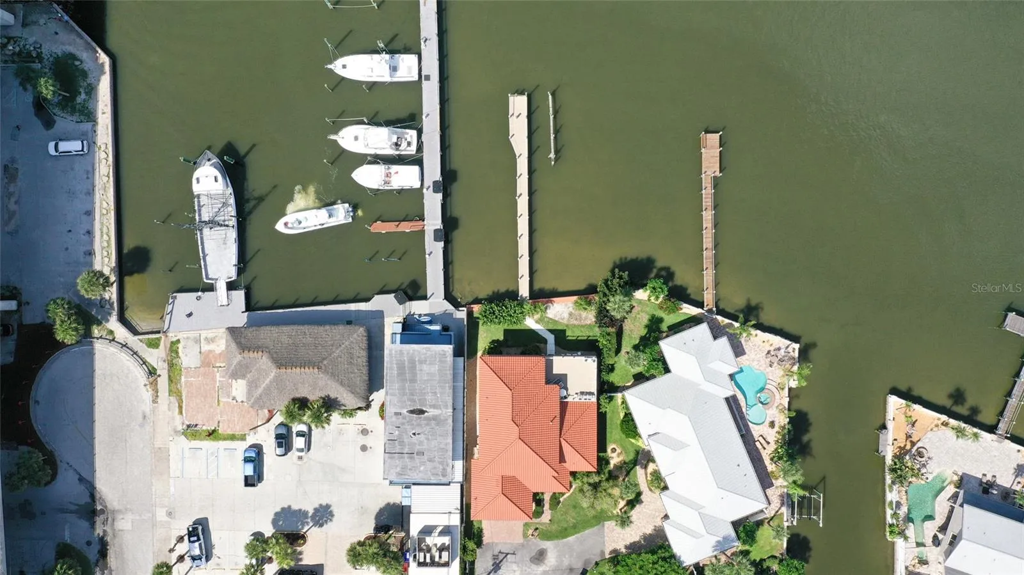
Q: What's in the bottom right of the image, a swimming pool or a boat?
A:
swimming pool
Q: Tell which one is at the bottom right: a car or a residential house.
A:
residential house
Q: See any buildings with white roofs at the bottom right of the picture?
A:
Yes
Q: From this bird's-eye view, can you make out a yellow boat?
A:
No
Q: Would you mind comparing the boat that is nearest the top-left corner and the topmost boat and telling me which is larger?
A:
the boat that is nearest the top-left corner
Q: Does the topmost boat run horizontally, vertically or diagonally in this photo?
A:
horizontally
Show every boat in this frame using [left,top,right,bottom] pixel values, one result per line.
[324,38,420,82]
[351,165,424,190]
[160,147,238,283]
[275,206,358,232]
[323,120,419,158]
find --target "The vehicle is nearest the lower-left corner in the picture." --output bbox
[187,523,209,566]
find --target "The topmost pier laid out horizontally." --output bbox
[367,219,425,234]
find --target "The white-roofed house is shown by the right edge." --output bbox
[929,486,1024,575]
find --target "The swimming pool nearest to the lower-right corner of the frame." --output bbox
[905,470,951,561]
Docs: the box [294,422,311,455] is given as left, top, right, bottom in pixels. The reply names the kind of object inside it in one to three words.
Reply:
car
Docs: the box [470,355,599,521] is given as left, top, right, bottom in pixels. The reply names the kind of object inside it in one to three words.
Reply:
house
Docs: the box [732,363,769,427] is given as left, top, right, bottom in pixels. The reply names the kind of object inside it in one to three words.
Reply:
swimming pool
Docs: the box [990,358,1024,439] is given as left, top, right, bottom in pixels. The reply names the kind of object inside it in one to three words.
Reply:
pier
